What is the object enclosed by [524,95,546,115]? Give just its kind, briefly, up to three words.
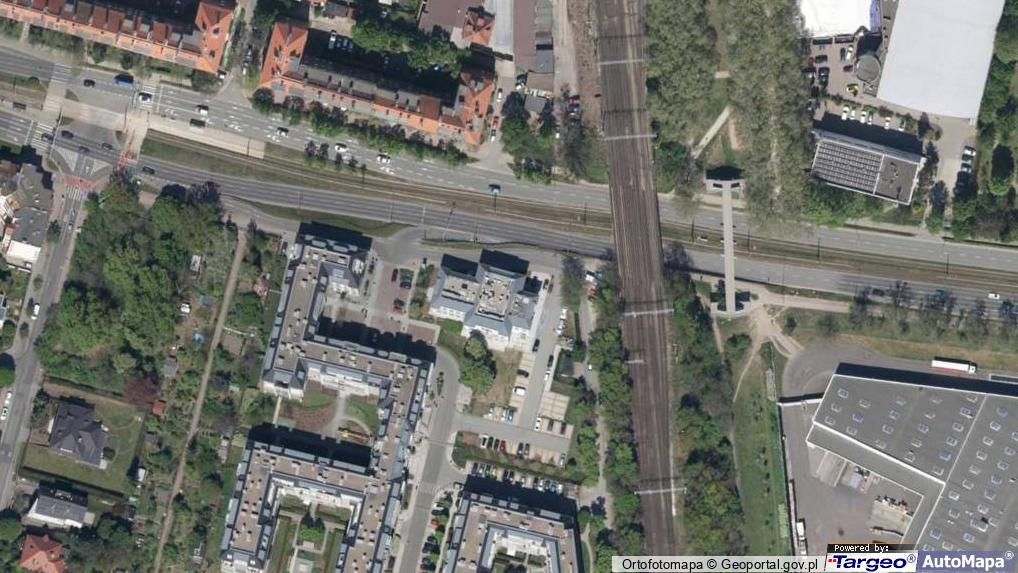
shed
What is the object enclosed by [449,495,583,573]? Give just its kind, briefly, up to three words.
building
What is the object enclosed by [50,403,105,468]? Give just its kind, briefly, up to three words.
house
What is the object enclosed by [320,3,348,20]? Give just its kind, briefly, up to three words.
building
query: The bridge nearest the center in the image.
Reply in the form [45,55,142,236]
[608,178,663,273]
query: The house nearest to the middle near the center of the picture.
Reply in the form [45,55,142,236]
[430,263,539,346]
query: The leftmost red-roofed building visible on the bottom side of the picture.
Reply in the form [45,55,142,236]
[20,534,66,573]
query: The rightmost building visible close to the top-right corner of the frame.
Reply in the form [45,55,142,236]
[876,0,1001,127]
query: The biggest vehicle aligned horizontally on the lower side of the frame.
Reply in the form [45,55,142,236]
[932,357,977,374]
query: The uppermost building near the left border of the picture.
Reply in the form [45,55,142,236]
[0,0,237,86]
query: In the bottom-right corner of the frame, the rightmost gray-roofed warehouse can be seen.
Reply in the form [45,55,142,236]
[806,374,1018,573]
